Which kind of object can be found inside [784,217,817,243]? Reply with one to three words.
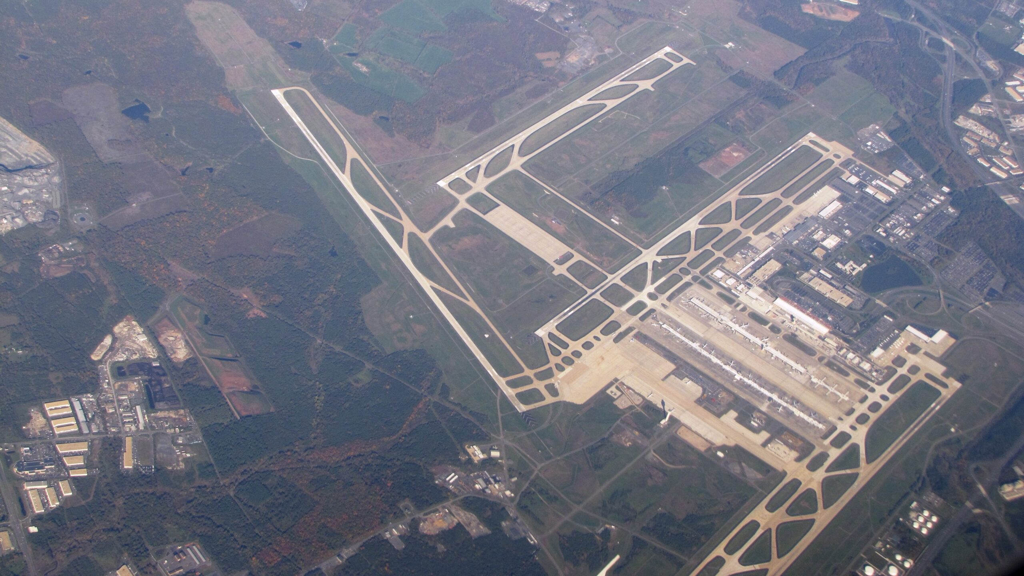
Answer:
building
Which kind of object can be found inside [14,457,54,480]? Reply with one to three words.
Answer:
building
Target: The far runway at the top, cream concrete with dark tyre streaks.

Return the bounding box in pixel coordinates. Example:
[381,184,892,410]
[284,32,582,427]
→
[437,46,671,186]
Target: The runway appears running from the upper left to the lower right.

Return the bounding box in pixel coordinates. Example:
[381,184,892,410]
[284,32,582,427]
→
[272,90,526,412]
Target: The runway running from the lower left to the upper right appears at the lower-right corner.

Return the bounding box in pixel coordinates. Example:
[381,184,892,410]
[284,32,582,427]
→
[768,380,961,576]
